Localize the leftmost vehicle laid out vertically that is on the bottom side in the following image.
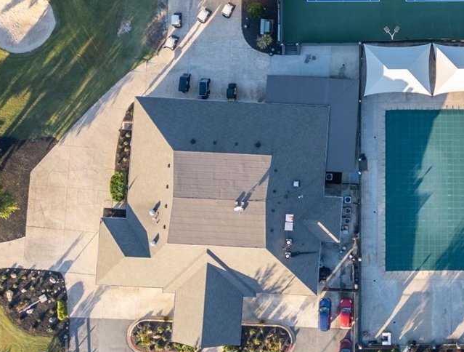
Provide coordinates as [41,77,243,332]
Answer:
[317,299,331,334]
